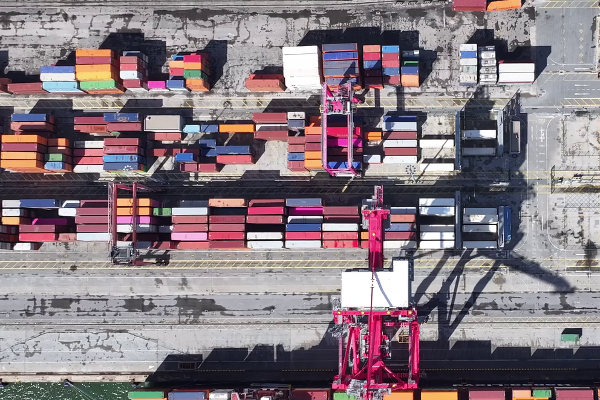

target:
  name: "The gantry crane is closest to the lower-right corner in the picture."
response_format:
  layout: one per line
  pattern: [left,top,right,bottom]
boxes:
[331,182,425,400]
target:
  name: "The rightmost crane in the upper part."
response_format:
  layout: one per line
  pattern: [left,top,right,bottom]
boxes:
[322,91,363,177]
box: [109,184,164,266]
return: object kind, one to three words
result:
container crane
